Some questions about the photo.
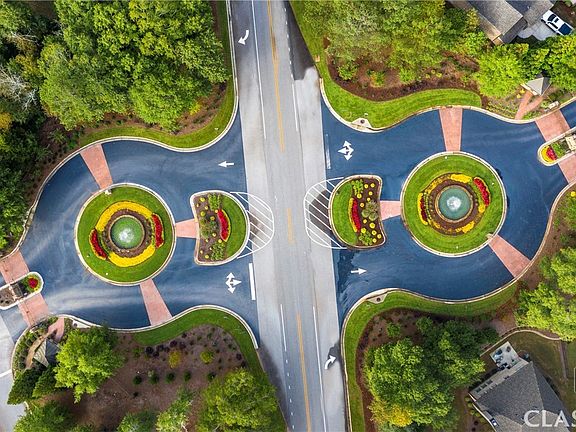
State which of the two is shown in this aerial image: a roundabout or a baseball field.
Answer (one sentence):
This aerial view contains a roundabout.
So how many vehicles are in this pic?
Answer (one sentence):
Just 1 vehicle appears in this view.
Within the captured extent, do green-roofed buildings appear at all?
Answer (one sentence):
No, there's no green-roofed building here.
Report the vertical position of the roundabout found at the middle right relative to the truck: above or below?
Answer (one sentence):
Within the scene, the roundabout found at the middle right can be found below the truck.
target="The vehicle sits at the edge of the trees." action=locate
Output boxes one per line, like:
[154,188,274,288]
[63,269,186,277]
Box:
[542,9,574,38]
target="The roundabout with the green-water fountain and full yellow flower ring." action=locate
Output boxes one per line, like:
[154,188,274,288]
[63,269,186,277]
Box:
[0,94,258,347]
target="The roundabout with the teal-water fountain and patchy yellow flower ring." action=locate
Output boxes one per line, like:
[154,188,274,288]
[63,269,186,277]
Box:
[320,76,576,338]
